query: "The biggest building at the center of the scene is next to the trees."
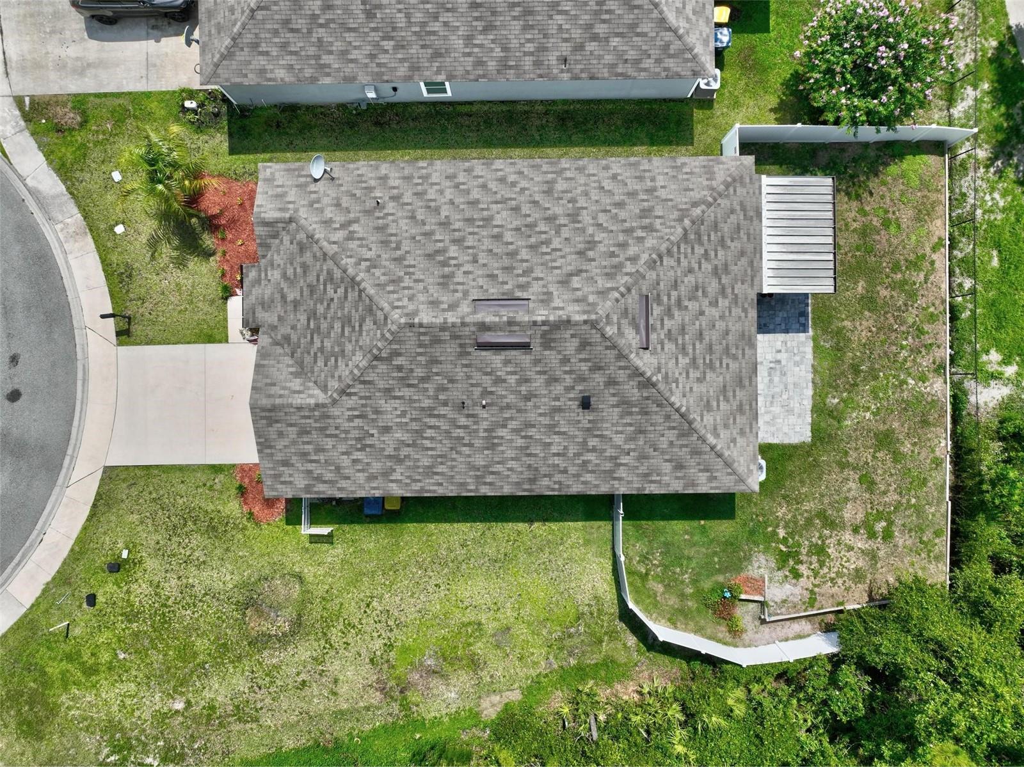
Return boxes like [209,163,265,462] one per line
[238,156,762,498]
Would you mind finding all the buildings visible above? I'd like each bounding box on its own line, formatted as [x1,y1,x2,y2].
[238,156,762,498]
[199,0,714,112]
